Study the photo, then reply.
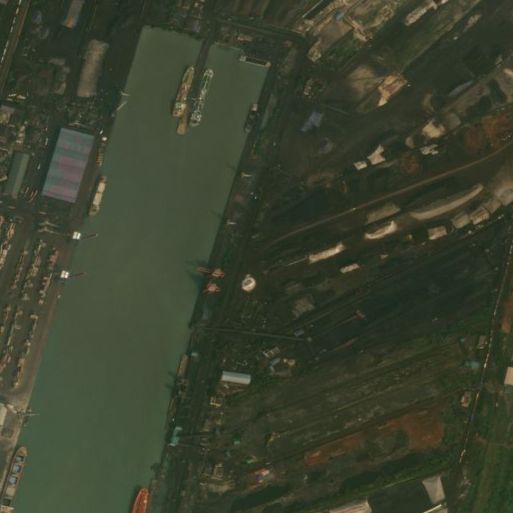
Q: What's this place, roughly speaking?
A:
port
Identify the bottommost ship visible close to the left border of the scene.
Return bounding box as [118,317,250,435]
[1,447,27,513]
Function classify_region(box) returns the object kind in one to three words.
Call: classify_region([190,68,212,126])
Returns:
ship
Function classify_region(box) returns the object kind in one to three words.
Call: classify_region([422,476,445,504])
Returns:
building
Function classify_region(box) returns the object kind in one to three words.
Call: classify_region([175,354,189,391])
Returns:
ship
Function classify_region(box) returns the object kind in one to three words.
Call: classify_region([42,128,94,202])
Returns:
building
